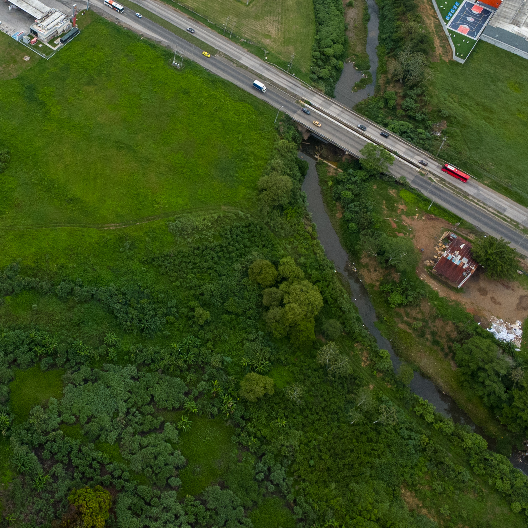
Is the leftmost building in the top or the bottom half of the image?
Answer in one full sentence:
The top half of the photo is where the leftmost building is.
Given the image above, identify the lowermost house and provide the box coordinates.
[431,233,477,293]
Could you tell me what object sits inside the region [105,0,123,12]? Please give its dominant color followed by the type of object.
white vehicle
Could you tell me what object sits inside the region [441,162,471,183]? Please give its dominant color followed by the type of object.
red bus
